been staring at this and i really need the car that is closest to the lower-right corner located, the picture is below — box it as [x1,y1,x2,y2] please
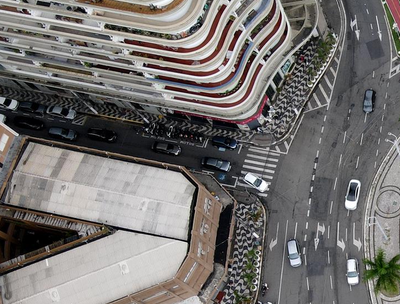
[346,259,361,286]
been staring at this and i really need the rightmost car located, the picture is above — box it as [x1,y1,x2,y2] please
[363,89,376,114]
